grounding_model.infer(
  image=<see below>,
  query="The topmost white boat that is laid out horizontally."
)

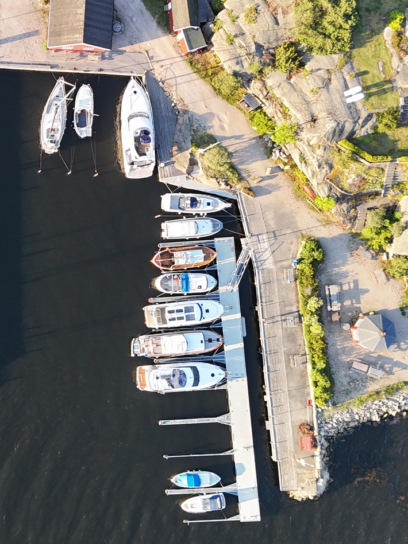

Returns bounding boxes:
[155,187,242,219]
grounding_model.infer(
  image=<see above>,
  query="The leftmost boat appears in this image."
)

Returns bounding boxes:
[40,71,73,171]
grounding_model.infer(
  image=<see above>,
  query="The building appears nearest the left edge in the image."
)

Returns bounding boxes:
[47,0,114,54]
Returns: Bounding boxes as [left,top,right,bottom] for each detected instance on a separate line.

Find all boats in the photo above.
[153,269,217,296]
[118,72,156,184]
[139,295,228,327]
[179,490,227,514]
[155,216,242,240]
[40,71,73,171]
[150,245,217,270]
[70,85,96,171]
[167,466,222,488]
[155,187,242,219]
[129,326,225,358]
[132,362,231,393]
